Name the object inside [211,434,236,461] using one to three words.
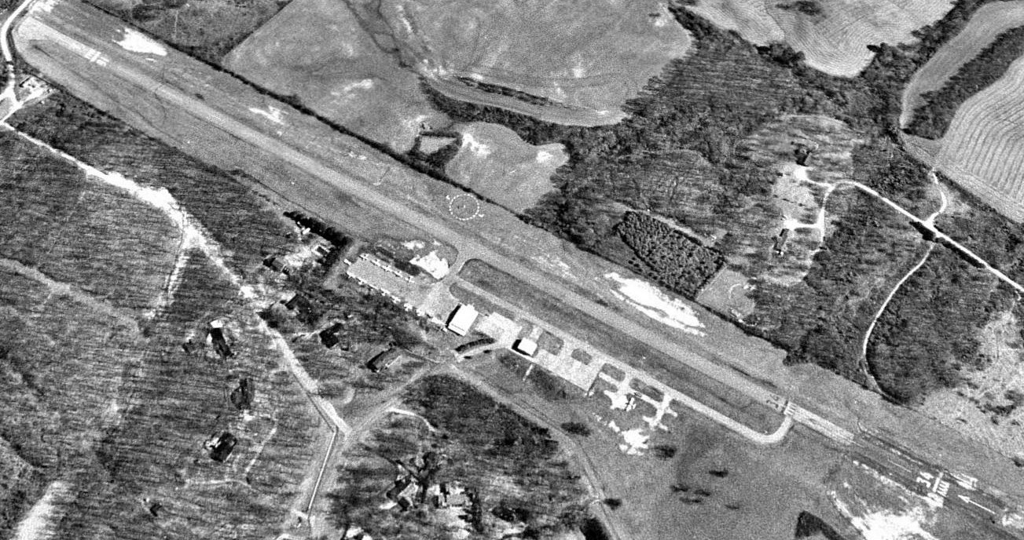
house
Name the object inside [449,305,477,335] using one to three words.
hangar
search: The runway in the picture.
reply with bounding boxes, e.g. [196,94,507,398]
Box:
[32,18,788,414]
